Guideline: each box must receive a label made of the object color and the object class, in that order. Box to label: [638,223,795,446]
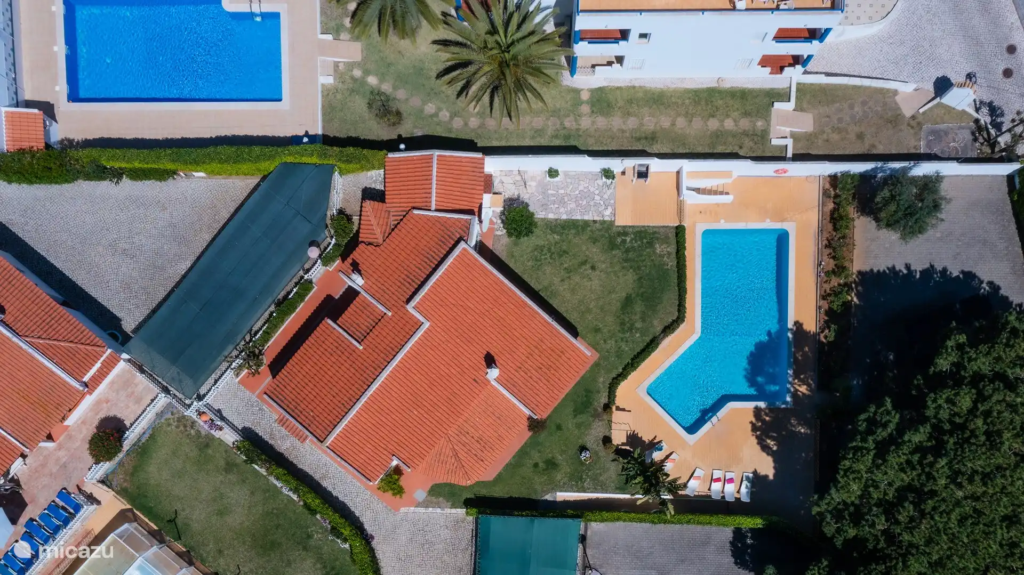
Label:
blue swimming pool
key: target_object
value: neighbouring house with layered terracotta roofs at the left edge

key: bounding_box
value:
[0,241,144,480]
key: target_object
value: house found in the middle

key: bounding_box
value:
[262,149,593,485]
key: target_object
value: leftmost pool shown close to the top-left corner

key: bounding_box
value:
[57,0,289,109]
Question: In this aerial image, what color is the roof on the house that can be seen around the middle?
red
